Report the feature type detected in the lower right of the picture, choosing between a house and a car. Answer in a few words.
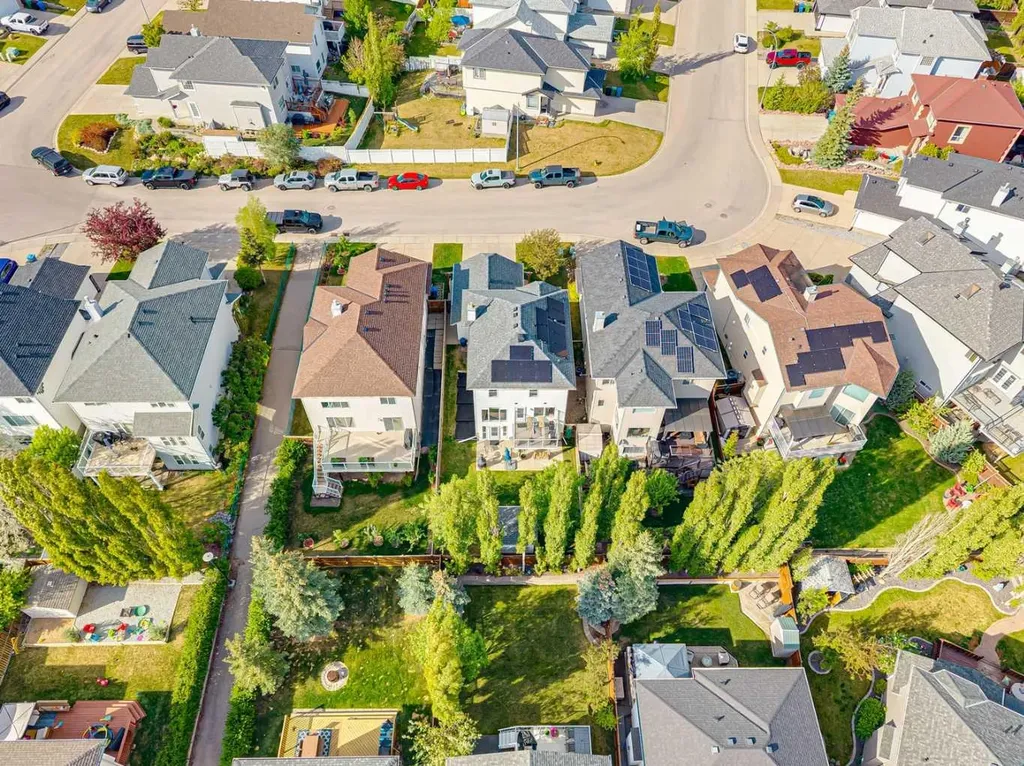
house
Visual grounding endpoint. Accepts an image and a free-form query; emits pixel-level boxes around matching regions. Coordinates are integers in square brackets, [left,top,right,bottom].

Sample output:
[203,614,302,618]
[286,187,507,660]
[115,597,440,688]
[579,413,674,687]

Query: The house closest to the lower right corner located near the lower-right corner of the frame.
[863,646,1024,766]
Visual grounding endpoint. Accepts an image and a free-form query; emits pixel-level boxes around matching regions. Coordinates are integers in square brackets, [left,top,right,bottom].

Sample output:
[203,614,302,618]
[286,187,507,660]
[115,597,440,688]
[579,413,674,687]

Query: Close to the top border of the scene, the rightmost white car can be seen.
[734,33,751,53]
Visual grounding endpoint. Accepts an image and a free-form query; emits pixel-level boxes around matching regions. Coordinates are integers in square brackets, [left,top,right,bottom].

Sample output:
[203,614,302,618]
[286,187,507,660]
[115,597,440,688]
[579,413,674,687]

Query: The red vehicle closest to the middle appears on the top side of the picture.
[386,172,429,191]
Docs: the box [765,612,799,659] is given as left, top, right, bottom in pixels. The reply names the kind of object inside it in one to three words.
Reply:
shed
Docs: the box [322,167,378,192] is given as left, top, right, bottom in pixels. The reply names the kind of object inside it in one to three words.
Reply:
truck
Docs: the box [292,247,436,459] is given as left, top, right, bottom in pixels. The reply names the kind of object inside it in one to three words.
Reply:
house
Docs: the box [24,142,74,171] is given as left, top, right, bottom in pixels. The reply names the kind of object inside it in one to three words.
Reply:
car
